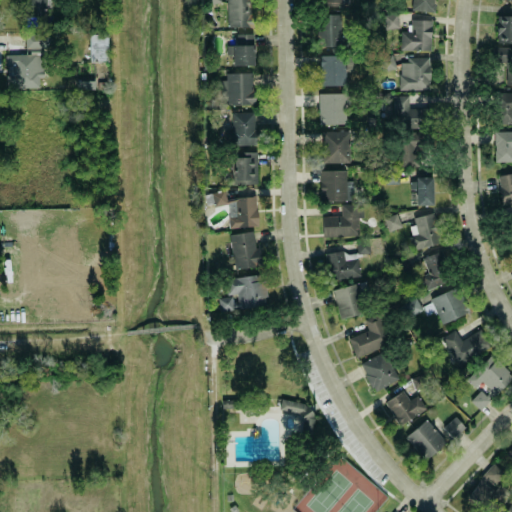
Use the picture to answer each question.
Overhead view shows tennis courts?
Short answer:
Yes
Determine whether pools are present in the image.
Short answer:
Yes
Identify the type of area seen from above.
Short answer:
residential area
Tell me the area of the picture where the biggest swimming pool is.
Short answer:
bottom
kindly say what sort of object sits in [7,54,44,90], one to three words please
house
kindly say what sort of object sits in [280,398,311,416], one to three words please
building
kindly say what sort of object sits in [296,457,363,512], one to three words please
tennis court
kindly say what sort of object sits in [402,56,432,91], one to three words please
house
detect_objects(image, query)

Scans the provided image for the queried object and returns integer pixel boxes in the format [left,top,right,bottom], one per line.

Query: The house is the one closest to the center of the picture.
[232,232,261,269]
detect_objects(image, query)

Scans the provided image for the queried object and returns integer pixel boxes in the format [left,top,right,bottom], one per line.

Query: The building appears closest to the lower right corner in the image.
[476,463,504,493]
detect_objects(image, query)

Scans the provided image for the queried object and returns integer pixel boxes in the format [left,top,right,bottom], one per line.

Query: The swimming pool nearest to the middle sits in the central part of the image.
[208,205,230,230]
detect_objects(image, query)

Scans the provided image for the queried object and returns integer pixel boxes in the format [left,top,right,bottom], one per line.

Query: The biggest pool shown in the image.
[226,405,287,468]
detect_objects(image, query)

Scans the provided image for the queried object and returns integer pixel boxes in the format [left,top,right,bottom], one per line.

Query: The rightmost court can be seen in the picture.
[334,476,386,512]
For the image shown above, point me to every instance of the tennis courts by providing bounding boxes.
[296,457,363,512]
[334,476,386,512]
